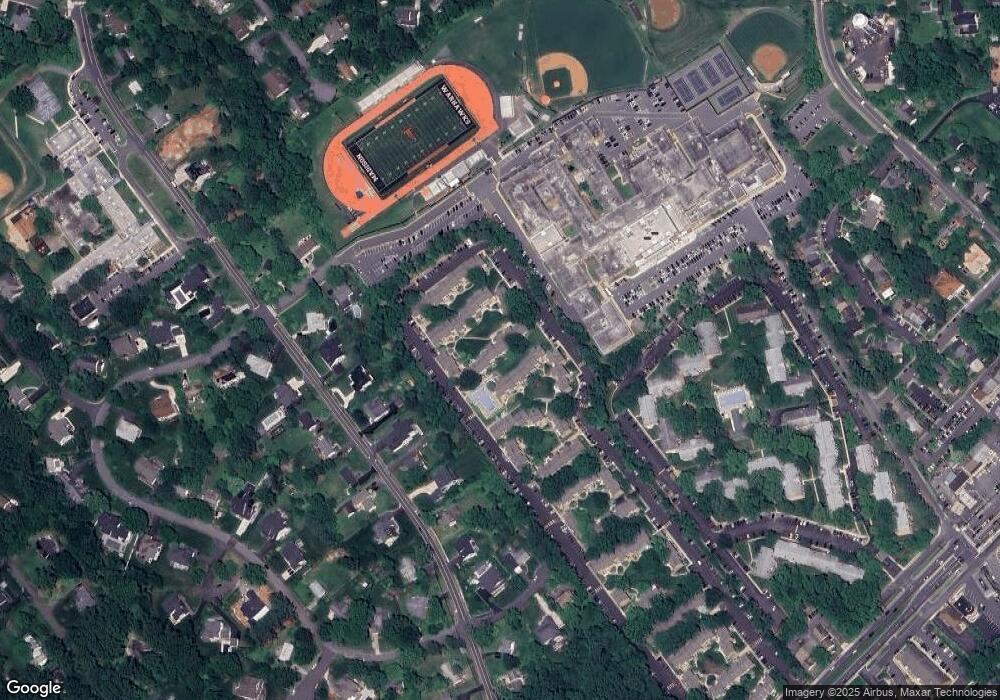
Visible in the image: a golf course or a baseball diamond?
baseball diamond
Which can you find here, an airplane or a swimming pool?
swimming pool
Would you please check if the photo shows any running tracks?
Yes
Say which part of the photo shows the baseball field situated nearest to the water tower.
top right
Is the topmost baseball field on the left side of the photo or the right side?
right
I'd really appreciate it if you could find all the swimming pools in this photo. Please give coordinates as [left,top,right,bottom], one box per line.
[713,385,752,418]
[463,385,502,418]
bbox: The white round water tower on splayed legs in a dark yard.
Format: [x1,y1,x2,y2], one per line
[853,13,884,46]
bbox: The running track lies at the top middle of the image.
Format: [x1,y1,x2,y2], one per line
[323,61,506,236]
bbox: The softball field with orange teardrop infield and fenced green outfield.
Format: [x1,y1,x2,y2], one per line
[725,7,814,86]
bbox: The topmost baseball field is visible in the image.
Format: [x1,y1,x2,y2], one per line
[646,0,683,31]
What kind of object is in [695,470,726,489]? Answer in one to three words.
building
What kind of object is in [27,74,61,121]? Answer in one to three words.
basketball court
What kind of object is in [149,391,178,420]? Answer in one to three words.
house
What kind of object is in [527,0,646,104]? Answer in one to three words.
baseball field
